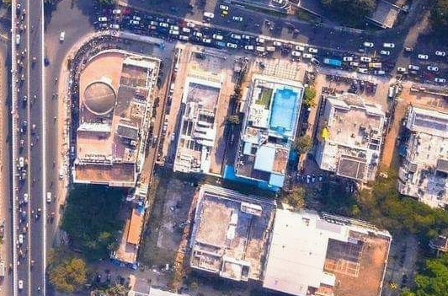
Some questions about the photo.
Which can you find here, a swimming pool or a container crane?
swimming pool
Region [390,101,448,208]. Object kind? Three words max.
building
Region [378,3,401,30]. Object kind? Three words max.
building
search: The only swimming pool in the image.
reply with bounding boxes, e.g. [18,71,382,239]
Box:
[269,85,299,132]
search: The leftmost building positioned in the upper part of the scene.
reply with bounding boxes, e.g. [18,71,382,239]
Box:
[72,48,159,184]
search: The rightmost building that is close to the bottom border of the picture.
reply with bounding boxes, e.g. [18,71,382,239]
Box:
[260,206,392,296]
